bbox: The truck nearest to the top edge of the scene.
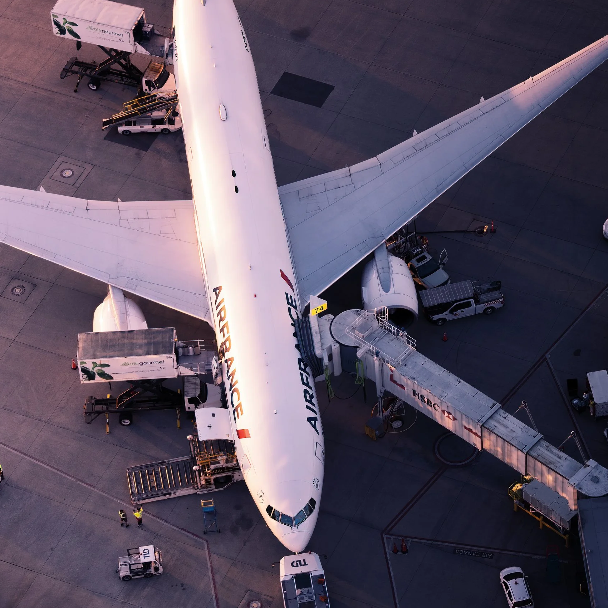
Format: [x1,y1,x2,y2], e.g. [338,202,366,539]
[50,0,178,105]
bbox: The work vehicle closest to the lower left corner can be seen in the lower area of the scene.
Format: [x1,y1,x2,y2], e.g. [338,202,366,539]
[112,545,164,582]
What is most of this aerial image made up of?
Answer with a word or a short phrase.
paved ground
